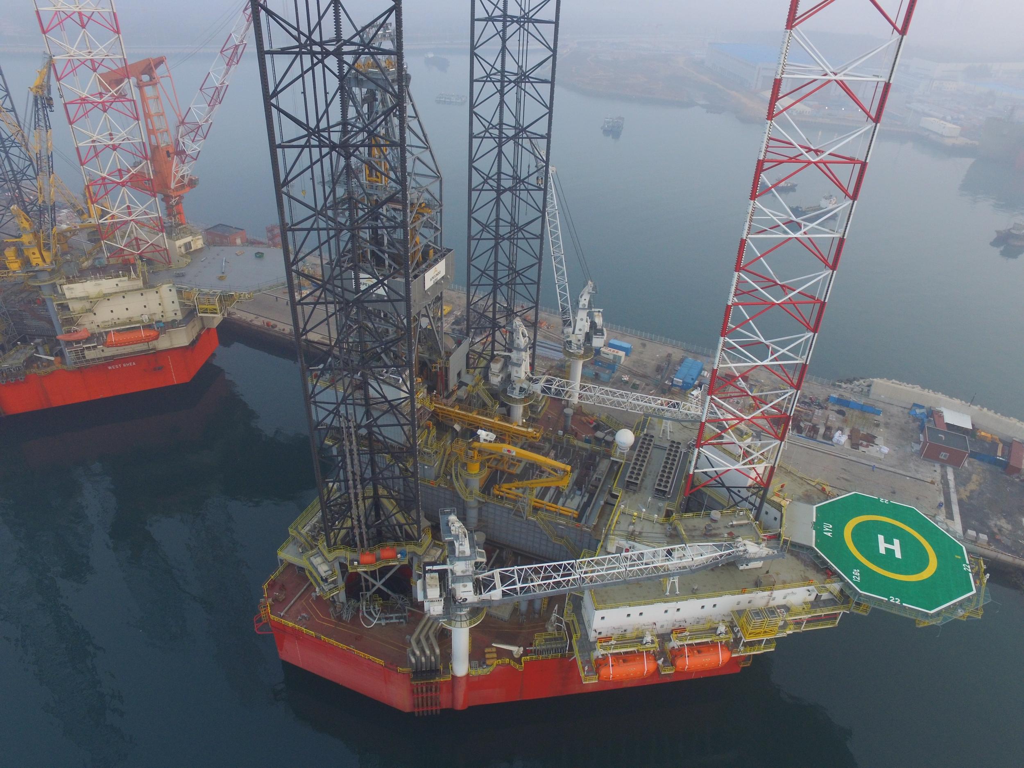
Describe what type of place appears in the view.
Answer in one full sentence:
What you see here is a port.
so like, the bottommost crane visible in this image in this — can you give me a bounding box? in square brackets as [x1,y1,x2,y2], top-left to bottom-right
[408,512,794,686]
